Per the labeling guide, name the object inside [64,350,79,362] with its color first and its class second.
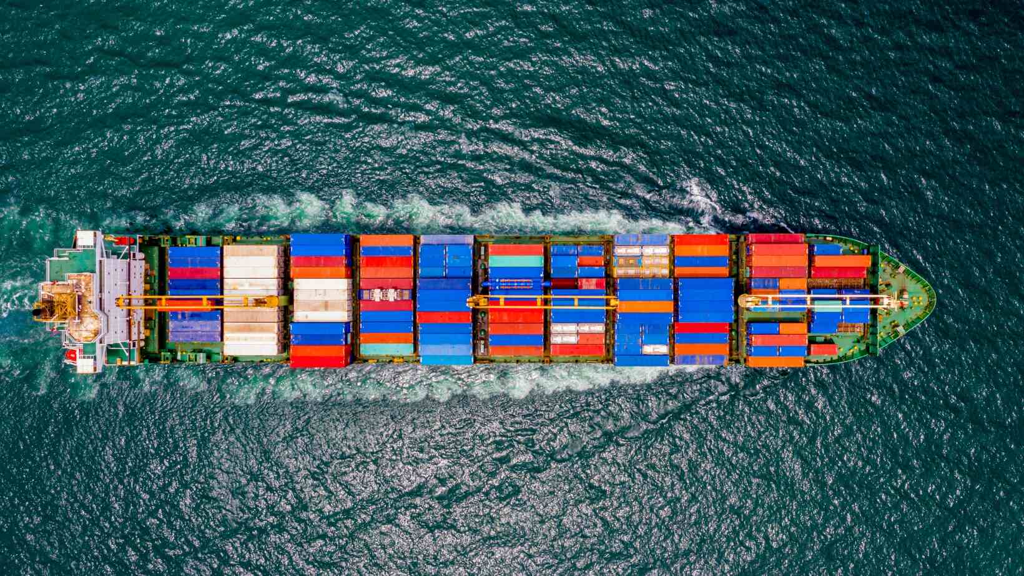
red boat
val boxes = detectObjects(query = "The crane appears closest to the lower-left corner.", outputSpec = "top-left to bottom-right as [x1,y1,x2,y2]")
[119,294,294,309]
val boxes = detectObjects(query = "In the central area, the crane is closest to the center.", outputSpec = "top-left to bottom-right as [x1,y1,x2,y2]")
[471,294,618,309]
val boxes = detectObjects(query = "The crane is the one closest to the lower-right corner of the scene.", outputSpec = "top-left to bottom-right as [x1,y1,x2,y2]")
[728,294,896,309]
